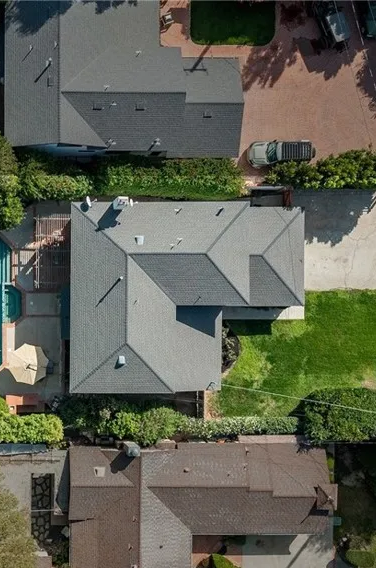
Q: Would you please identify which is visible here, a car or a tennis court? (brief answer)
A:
car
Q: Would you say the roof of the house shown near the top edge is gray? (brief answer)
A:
Yes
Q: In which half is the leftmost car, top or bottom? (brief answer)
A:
top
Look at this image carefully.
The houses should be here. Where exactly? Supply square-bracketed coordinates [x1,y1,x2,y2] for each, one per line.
[61,196,305,395]
[9,438,337,568]
[4,0,243,159]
